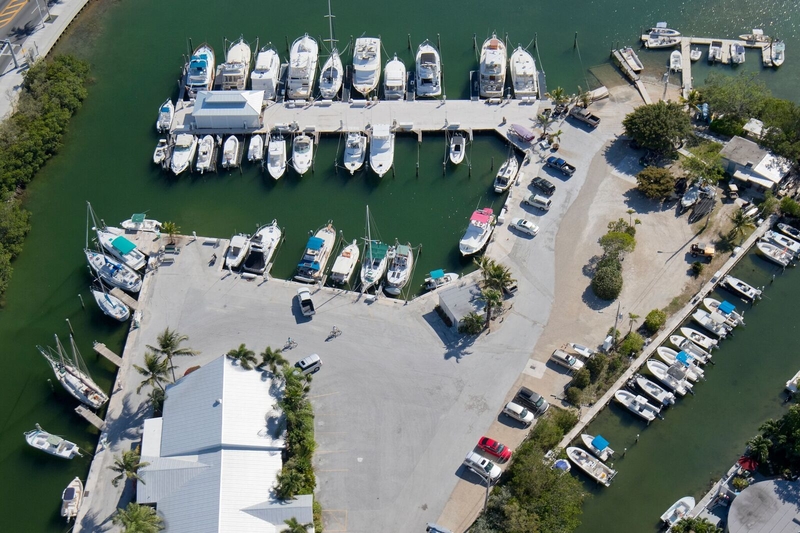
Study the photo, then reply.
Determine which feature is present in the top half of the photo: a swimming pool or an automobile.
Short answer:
automobile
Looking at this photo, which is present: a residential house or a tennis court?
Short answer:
residential house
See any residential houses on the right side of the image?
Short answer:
Yes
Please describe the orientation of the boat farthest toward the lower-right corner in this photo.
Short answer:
diagonally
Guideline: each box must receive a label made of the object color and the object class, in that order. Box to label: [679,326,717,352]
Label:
white boat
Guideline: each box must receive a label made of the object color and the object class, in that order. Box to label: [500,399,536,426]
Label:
white car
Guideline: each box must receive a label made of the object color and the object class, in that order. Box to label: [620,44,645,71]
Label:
white boat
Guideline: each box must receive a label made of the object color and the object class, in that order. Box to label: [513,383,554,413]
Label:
gray truck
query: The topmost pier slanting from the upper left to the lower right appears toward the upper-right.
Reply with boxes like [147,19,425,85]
[611,47,640,87]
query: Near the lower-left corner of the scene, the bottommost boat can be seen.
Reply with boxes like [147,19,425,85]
[56,476,84,522]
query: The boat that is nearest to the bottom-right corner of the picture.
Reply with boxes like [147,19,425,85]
[656,497,695,531]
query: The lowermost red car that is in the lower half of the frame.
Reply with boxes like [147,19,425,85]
[477,436,512,461]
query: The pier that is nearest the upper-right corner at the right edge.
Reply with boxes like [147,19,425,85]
[641,34,773,96]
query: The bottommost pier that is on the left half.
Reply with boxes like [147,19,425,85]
[75,404,104,431]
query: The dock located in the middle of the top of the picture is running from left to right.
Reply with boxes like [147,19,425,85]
[171,100,540,154]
